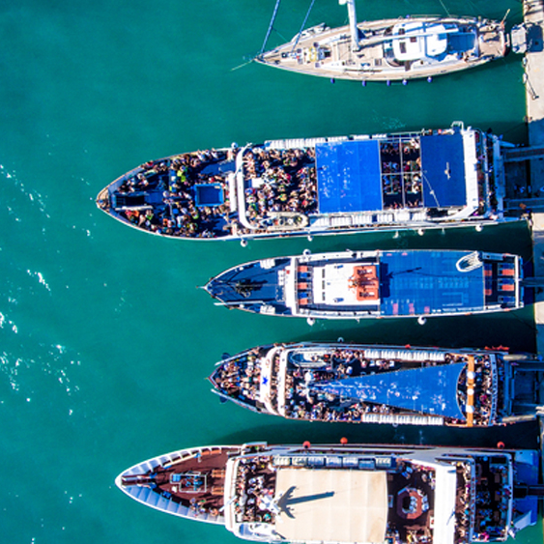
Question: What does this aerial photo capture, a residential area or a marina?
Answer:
marina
